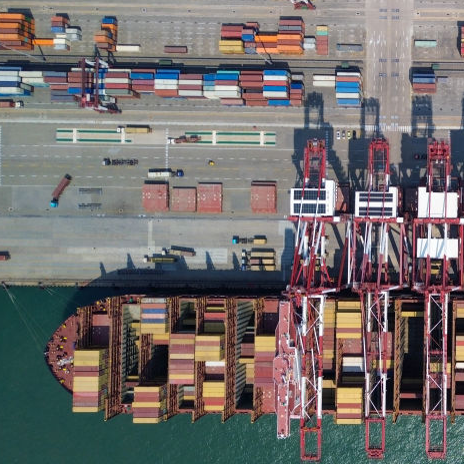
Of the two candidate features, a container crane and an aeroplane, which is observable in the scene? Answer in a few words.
container crane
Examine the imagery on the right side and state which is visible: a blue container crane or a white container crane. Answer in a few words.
white container crane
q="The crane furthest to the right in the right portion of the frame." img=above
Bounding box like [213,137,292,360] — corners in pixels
[411,137,464,460]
